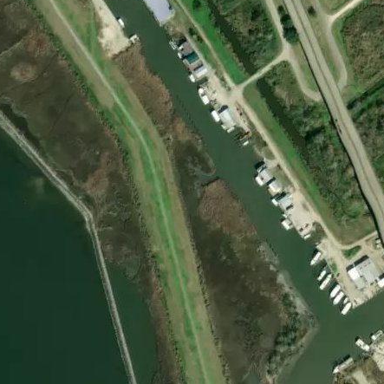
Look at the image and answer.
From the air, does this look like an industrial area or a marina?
marina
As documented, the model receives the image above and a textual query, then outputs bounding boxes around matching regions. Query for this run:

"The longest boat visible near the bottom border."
[332,357,355,374]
